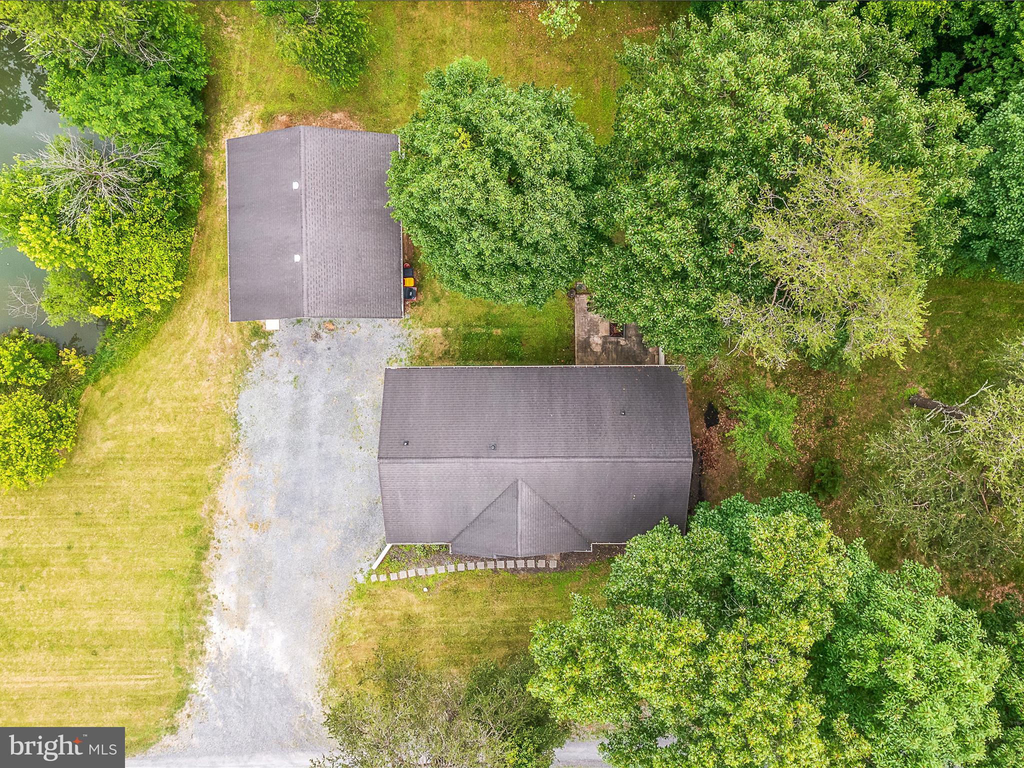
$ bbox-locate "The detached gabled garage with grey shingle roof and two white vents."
[223,124,406,322]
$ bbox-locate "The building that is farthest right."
[378,365,694,559]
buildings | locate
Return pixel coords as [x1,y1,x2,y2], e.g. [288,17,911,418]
[223,124,406,322]
[378,365,694,559]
